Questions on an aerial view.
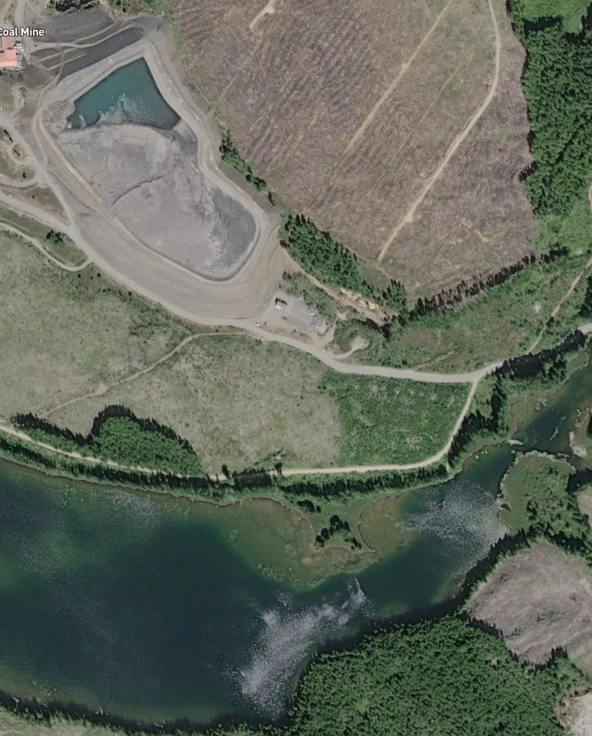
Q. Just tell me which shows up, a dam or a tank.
dam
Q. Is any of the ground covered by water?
Yes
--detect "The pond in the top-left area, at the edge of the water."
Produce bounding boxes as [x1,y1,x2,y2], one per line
[68,56,181,130]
